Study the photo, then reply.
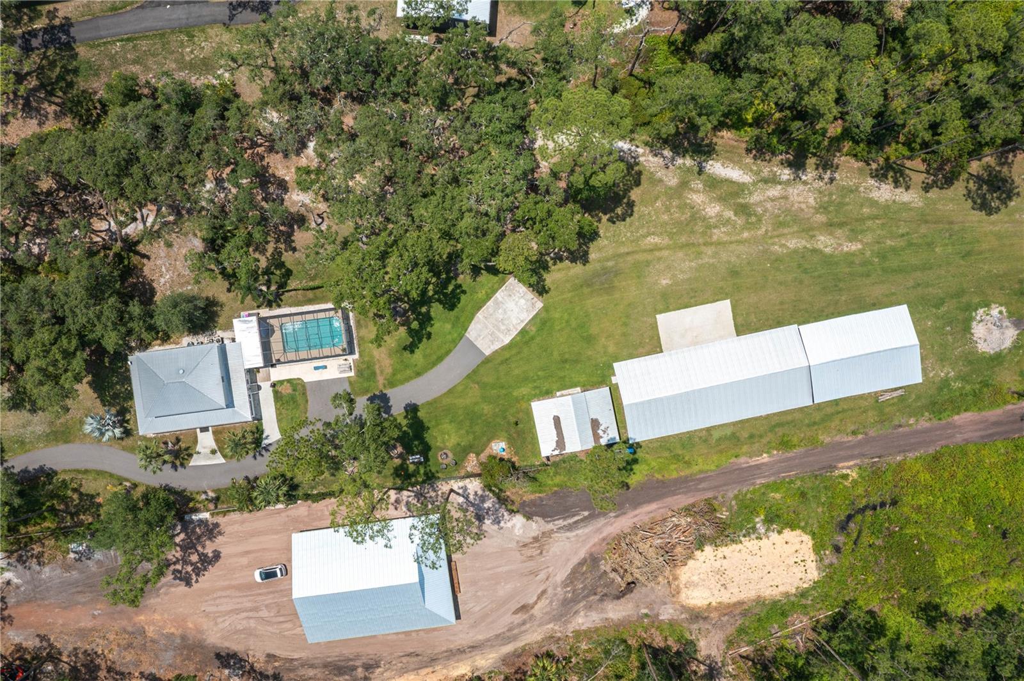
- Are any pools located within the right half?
No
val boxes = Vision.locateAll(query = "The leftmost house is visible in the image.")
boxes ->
[127,342,255,435]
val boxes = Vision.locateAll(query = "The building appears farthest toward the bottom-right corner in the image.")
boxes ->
[797,304,922,403]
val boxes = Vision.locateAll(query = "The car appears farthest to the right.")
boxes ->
[253,565,286,584]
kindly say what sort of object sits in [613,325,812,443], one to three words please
barn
